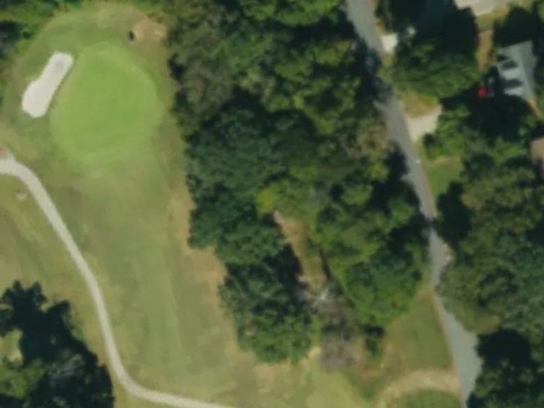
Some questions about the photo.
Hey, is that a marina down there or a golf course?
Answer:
golf course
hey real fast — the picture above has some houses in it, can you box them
[496,39,541,100]
[444,0,523,22]
[529,138,544,171]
